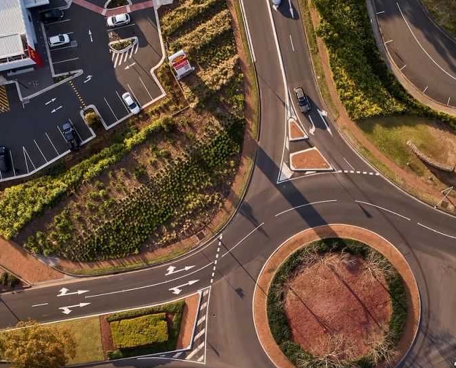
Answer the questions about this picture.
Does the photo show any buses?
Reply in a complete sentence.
No, I find no bus anywhere in the image.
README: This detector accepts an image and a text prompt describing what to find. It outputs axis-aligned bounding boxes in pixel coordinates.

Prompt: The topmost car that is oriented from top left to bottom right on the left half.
[120,90,140,116]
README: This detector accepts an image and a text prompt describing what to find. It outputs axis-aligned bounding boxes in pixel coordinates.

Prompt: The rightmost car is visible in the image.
[293,85,309,113]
